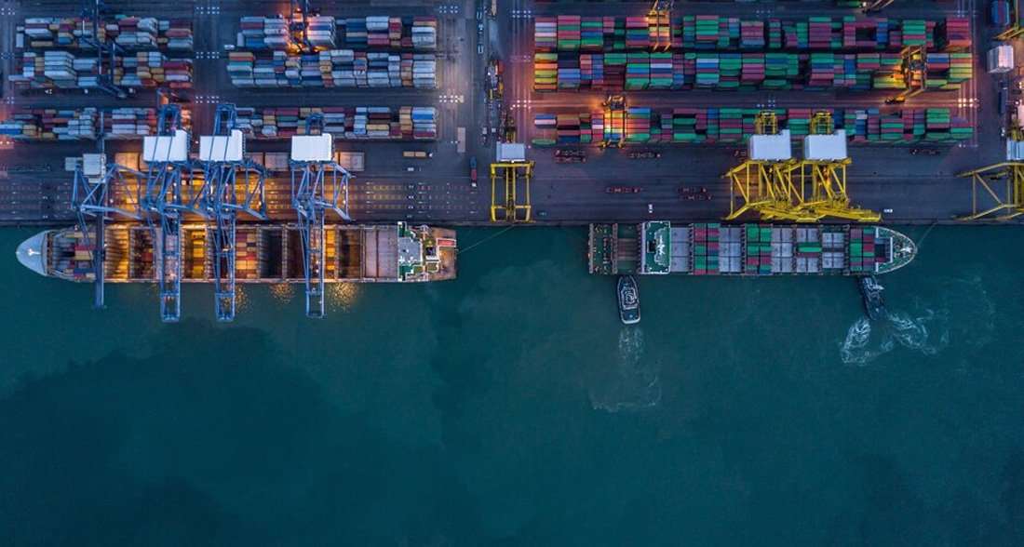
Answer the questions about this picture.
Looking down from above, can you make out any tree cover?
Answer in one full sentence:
No, tree cover can't be seen anywhere here.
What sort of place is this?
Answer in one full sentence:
The picture captures a port.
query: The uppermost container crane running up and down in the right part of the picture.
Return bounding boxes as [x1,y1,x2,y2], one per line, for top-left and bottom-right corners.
[648,0,673,55]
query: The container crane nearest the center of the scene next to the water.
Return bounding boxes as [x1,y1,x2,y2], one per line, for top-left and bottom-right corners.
[489,108,537,221]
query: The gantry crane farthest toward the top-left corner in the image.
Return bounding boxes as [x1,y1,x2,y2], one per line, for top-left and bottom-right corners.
[80,0,119,57]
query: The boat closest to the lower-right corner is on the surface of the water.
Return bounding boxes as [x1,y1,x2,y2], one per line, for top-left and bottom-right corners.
[859,277,884,320]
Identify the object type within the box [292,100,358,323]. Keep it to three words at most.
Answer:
container crane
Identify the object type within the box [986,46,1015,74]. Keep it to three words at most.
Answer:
shed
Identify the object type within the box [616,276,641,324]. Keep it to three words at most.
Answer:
boat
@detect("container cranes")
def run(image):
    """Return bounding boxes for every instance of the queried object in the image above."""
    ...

[718,106,825,225]
[648,0,673,55]
[286,0,318,54]
[134,100,227,323]
[605,97,627,153]
[292,100,358,323]
[767,106,890,225]
[951,141,1024,221]
[489,108,537,221]
[886,44,924,100]
[59,116,165,310]
[195,100,277,323]
[80,0,119,57]
[985,0,1024,40]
